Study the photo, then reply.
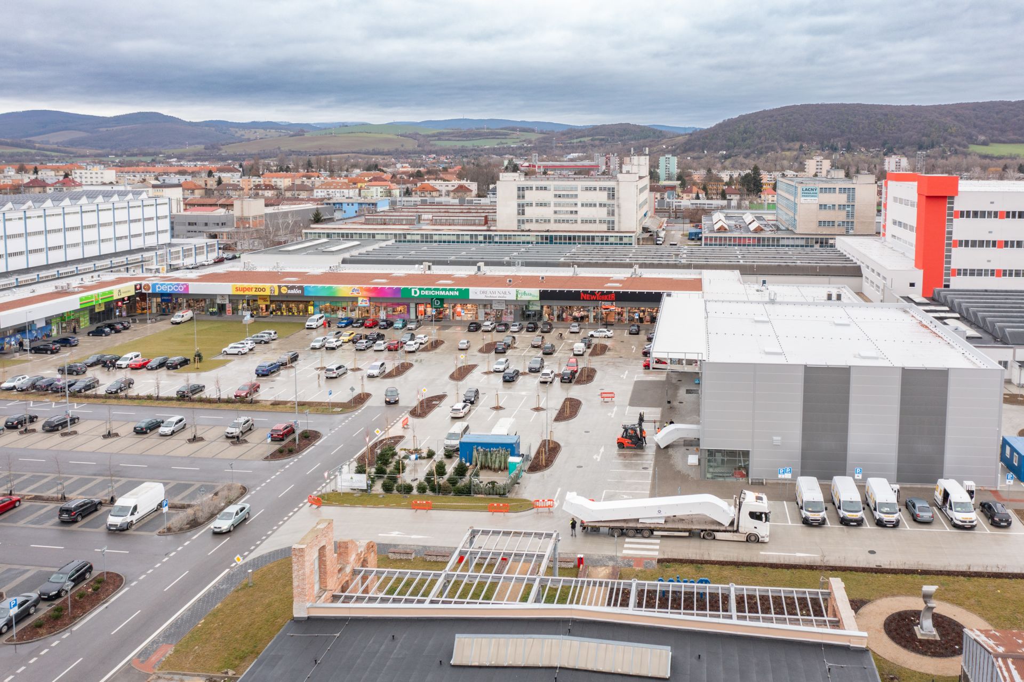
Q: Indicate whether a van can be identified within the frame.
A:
Yes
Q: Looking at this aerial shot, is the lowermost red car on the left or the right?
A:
left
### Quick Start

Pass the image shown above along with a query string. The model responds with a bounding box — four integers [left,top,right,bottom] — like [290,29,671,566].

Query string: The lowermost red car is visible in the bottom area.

[0,493,22,513]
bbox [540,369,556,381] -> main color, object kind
white vehicle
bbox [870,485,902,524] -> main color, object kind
white van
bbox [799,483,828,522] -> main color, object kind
white van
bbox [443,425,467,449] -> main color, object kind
white vehicle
